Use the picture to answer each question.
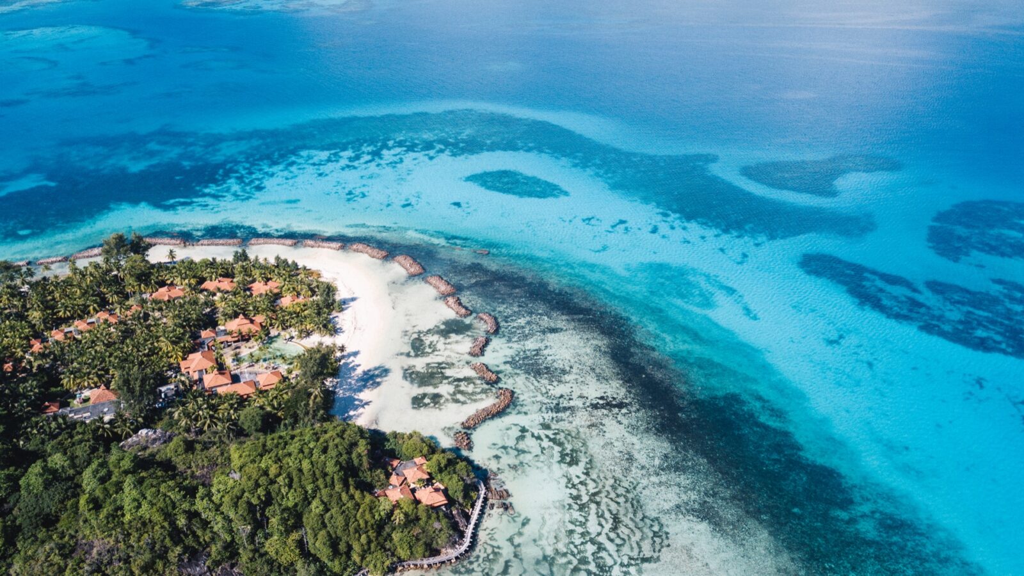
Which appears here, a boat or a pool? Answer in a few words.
pool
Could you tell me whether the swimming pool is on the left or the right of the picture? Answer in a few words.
left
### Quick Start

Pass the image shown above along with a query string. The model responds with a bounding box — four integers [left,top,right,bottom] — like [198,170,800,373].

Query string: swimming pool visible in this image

[238,332,306,367]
